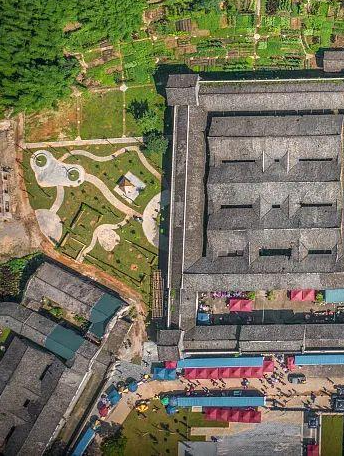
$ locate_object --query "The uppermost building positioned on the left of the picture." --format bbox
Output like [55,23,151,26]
[114,171,147,204]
